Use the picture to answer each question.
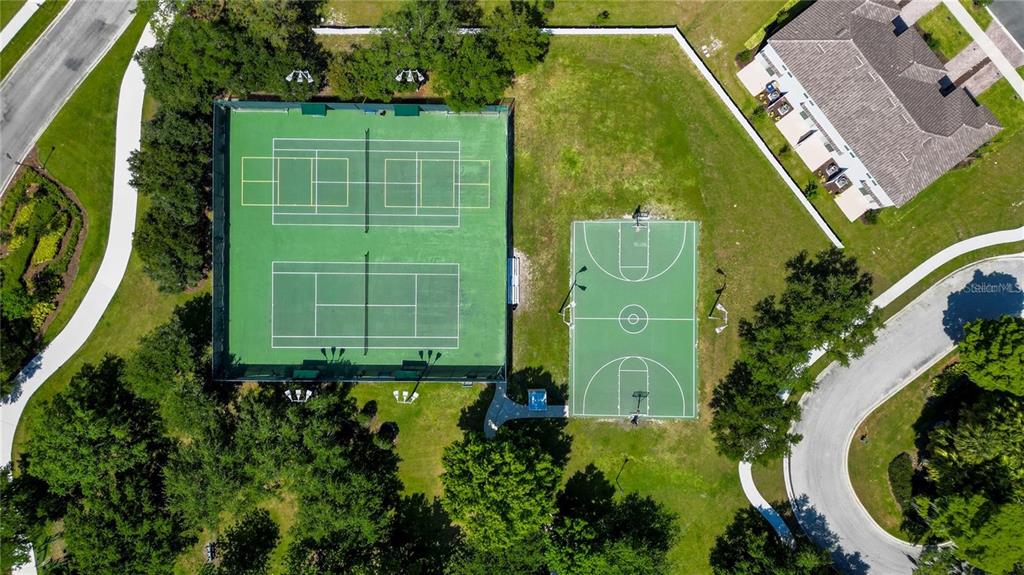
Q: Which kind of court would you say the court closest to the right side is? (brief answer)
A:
basketball court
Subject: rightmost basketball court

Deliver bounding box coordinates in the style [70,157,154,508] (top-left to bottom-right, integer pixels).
[569,220,699,418]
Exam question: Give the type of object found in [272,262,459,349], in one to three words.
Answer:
tennis court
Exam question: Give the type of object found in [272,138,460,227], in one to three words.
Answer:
tennis court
